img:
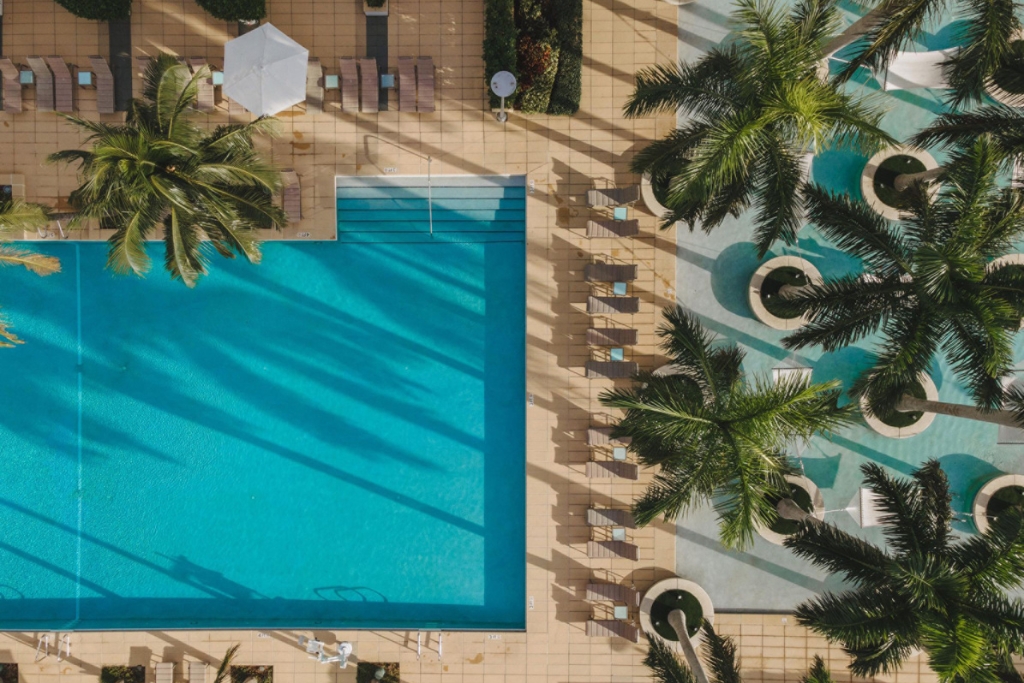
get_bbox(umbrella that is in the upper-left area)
[223,22,310,119]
